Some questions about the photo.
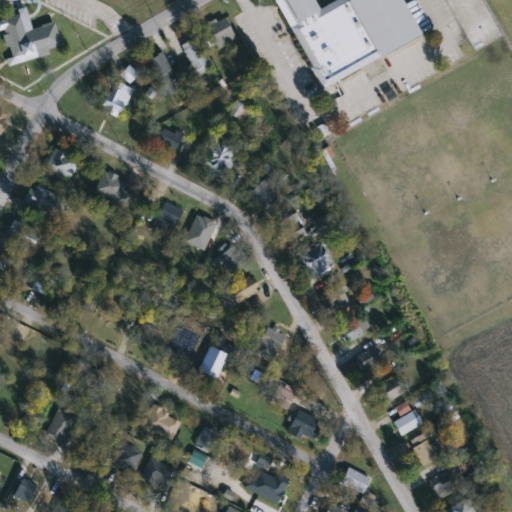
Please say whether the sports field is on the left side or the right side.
right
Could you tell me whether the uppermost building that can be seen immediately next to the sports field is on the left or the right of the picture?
right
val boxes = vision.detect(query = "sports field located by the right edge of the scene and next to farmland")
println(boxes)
[335,38,512,336]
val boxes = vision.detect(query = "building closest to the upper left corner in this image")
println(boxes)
[0,6,61,64]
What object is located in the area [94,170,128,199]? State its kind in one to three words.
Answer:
house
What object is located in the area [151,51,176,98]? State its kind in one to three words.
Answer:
house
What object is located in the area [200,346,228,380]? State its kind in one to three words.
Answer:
barn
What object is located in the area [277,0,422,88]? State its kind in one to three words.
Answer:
building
